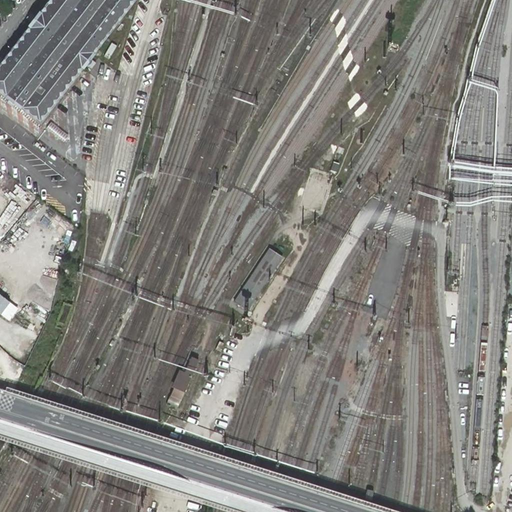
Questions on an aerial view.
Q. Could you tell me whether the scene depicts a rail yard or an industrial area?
rail yard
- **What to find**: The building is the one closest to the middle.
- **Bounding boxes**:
[233,246,282,308]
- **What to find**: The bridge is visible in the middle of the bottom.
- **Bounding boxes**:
[0,386,406,512]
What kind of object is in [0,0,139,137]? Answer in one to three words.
building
